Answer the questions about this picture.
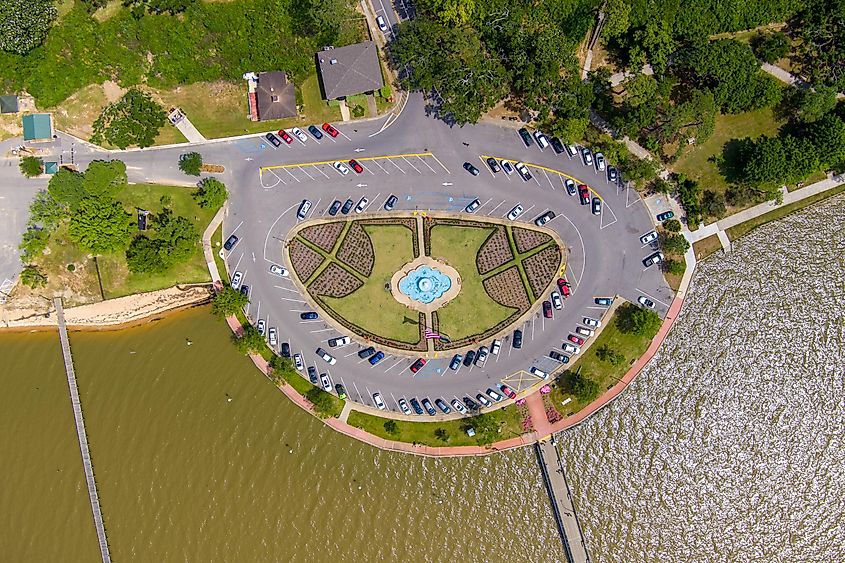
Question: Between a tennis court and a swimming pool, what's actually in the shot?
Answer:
swimming pool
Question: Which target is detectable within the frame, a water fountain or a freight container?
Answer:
water fountain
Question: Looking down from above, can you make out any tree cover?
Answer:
Yes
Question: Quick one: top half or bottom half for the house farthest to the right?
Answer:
top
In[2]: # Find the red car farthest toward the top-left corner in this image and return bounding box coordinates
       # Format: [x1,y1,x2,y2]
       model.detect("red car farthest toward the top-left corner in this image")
[277,129,294,145]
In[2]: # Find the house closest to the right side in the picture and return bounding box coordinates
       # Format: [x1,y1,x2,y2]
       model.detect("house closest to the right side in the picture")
[319,38,382,95]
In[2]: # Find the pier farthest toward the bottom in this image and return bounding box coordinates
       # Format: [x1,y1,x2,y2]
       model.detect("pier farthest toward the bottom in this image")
[538,435,592,563]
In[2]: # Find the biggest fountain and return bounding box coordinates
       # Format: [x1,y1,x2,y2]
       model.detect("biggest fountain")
[399,265,451,304]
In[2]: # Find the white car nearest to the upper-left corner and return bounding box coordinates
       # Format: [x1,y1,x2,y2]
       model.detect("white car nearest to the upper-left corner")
[292,126,309,143]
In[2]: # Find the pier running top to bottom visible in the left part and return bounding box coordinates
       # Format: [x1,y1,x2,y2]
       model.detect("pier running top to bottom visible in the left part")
[54,297,112,563]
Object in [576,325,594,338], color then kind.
white vehicle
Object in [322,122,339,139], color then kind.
red car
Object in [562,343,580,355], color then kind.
white vehicle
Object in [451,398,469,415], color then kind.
white car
